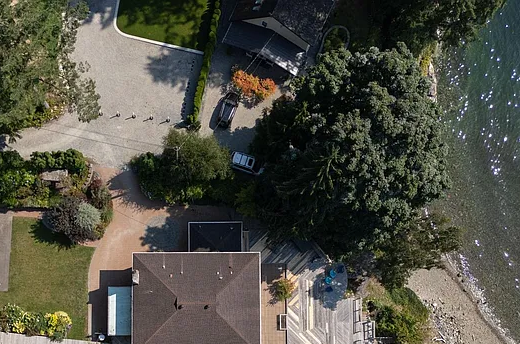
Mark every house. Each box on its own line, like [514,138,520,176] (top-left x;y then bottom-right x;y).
[221,0,331,83]
[132,221,262,344]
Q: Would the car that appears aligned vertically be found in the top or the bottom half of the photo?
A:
top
